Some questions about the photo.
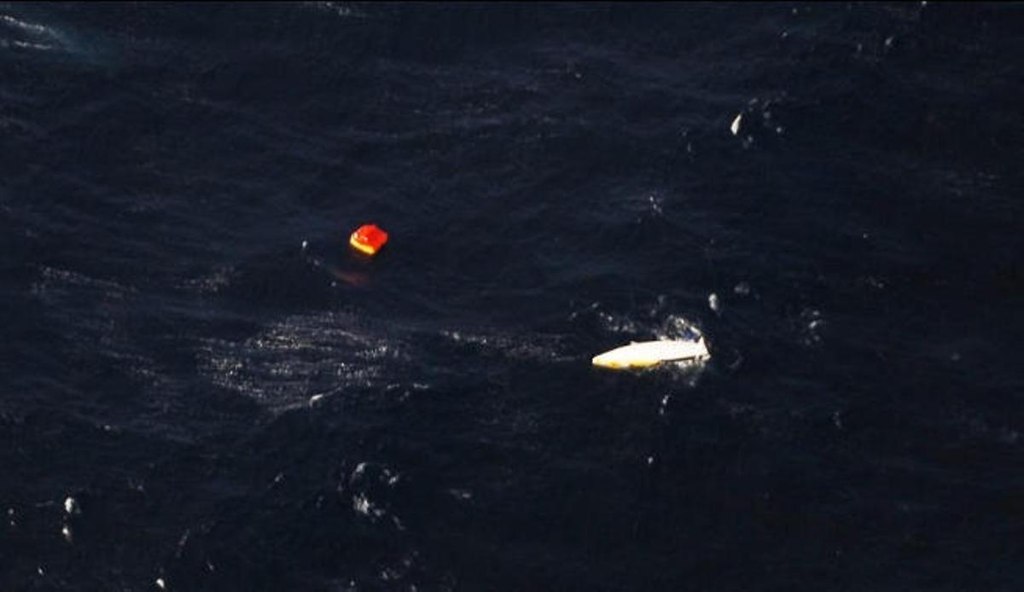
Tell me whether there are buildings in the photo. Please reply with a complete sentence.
No, there appears to be no building in this shot.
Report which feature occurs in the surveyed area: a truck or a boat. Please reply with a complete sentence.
The image shows a boat.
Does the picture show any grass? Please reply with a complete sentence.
No, the scene doesn't show any grass.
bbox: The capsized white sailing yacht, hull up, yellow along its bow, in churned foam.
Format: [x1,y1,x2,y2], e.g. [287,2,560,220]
[593,333,710,367]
